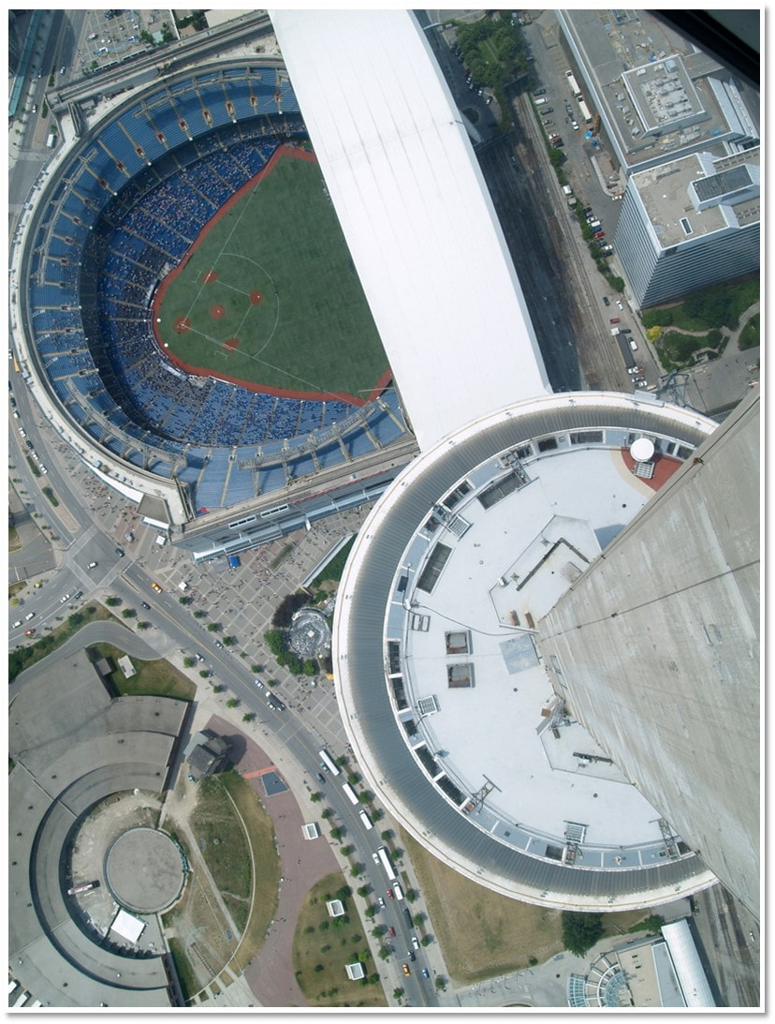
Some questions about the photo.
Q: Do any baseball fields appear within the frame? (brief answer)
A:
Yes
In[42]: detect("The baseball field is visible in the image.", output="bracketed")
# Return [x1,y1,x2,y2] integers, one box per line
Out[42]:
[154,146,395,405]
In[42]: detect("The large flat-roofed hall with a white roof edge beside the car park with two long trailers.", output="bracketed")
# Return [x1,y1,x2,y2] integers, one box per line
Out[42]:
[549,0,756,191]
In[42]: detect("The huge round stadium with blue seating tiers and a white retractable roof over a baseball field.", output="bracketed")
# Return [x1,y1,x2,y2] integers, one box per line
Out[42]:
[5,0,554,559]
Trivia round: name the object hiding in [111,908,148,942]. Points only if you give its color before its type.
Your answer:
white tent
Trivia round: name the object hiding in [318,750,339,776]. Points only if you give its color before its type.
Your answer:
white bus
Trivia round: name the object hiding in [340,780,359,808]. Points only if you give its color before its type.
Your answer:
white vehicle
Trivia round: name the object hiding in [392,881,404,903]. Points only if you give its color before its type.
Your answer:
white vehicle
